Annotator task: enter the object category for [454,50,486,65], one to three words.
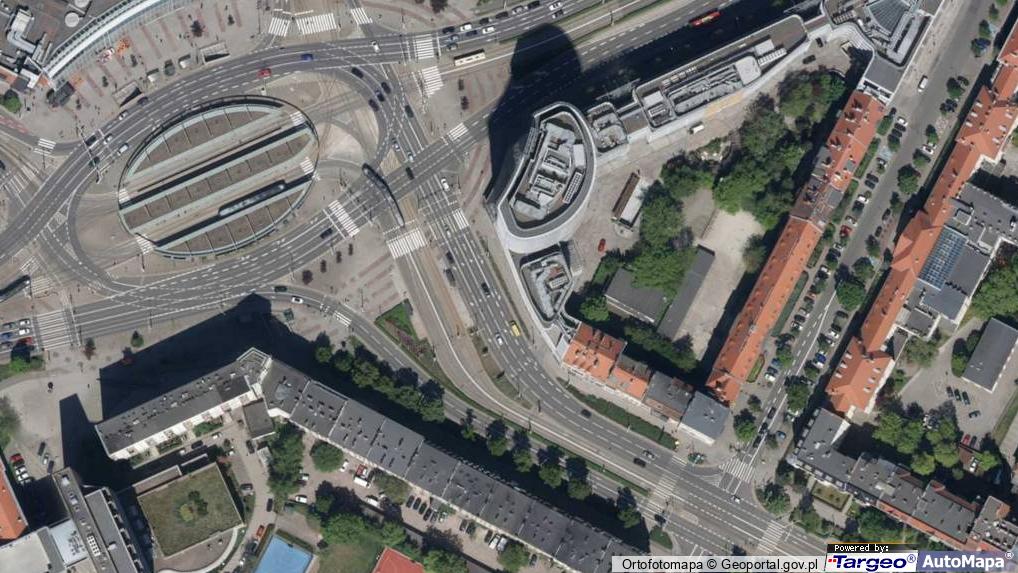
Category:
vehicle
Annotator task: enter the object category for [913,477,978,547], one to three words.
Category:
house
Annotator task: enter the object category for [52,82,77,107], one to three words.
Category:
building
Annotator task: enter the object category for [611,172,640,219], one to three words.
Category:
shed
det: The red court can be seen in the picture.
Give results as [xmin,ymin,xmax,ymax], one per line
[375,547,425,573]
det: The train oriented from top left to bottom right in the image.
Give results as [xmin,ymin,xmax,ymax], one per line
[363,164,406,227]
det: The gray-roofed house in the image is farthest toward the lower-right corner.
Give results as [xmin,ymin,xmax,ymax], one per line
[963,497,1018,569]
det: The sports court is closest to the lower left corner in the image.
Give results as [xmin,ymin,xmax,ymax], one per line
[256,535,313,573]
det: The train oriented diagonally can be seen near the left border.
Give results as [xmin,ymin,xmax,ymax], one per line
[0,277,31,300]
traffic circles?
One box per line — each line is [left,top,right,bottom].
[0,32,437,358]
